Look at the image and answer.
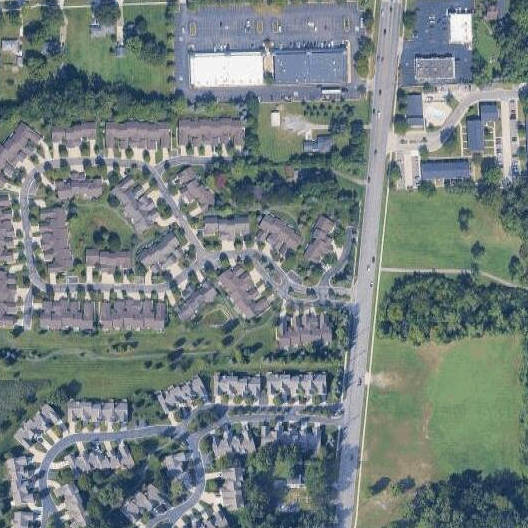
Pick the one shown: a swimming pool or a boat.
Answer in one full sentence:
There is a swimming pool in the scene.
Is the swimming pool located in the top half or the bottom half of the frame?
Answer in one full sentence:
The top half of the photo is where the swimming pool is.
